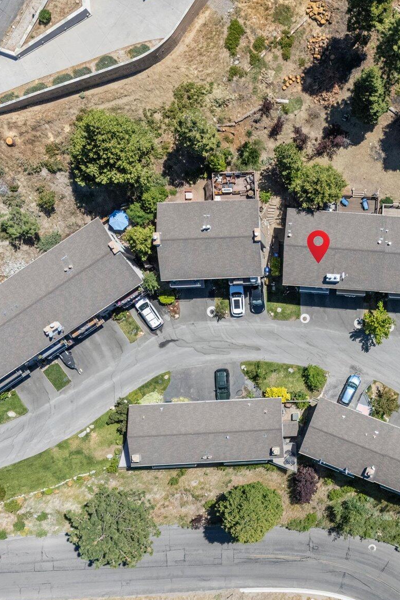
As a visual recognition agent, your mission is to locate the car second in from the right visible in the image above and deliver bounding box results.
[249,285,265,314]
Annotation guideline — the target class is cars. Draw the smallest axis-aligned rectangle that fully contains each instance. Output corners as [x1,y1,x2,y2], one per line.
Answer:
[213,368,230,400]
[229,285,246,318]
[249,285,265,314]
[136,298,163,332]
[339,373,361,405]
